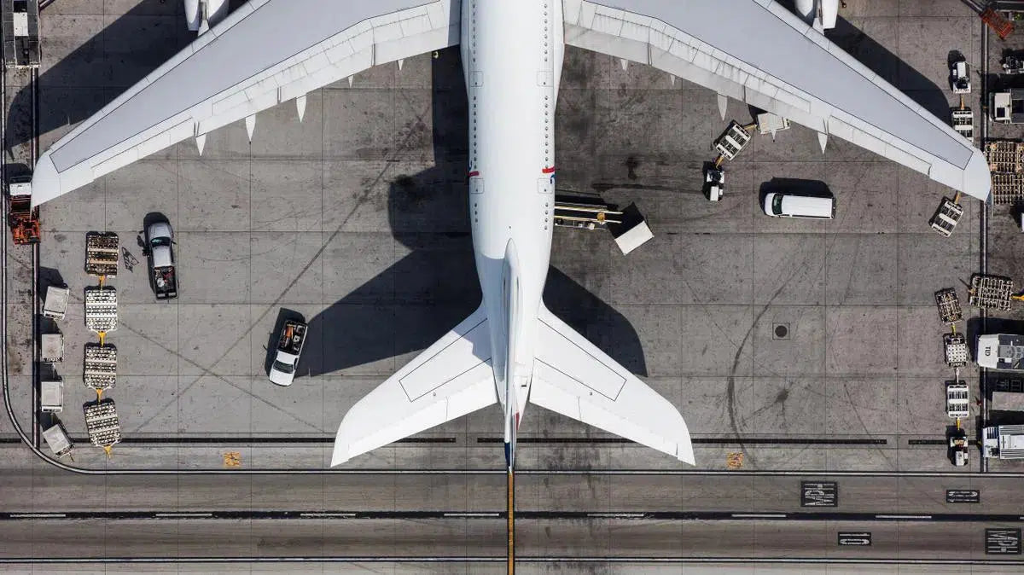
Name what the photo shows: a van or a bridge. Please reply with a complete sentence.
The one in the frame is a van.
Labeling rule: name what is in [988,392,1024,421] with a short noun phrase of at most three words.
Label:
trailer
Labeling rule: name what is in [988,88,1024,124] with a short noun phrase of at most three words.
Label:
truck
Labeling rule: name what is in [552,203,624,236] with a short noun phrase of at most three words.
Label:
work vehicle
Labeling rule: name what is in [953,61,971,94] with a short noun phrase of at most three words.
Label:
work vehicle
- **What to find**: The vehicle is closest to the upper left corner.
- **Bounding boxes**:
[3,0,42,68]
